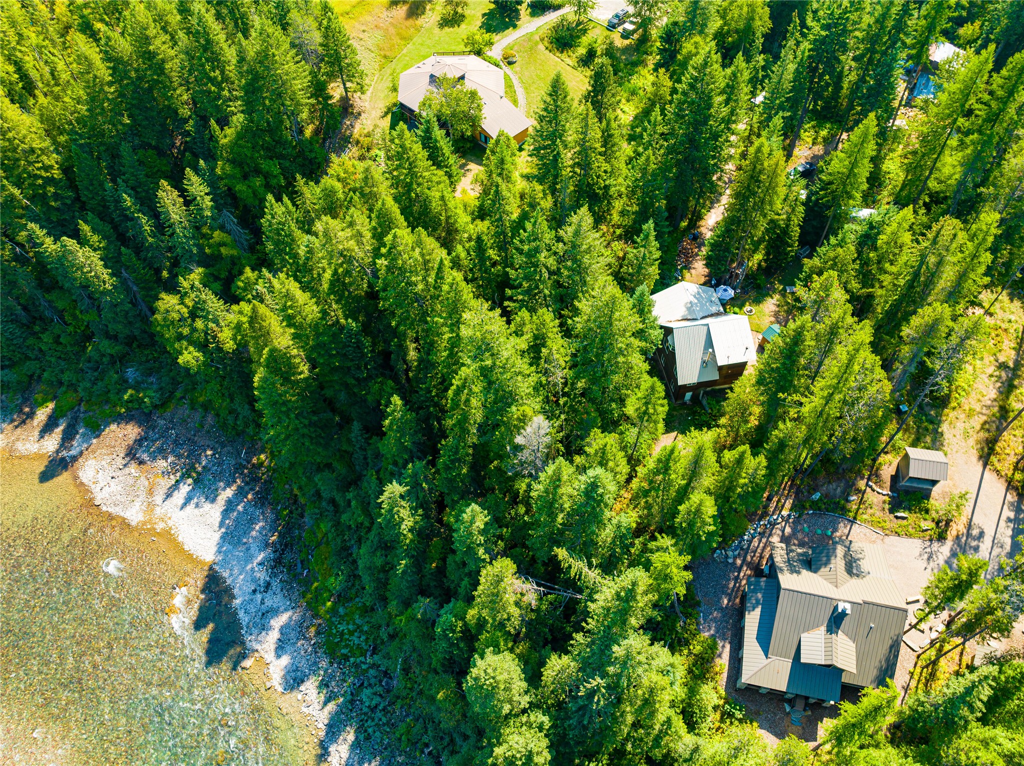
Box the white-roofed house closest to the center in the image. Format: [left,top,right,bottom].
[648,280,757,405]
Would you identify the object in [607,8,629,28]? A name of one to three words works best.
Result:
car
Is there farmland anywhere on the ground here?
No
